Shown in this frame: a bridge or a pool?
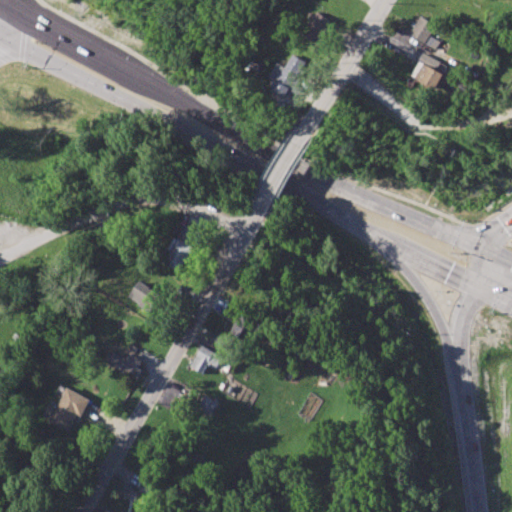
bridge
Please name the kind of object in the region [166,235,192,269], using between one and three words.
house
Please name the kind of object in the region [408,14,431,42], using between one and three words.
barn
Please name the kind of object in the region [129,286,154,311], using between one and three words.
house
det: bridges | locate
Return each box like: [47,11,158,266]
[250,118,316,210]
